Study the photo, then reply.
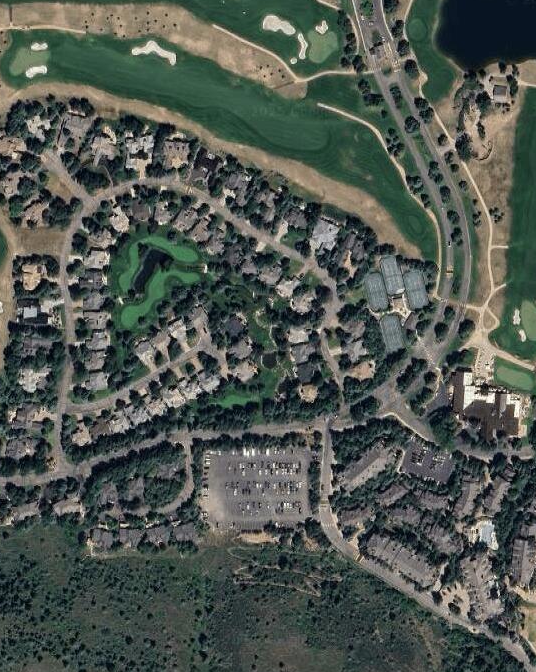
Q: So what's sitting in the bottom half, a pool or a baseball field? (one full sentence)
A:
The feature located in the bottom half is a pool.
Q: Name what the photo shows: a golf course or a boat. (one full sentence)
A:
The image shows a golf course.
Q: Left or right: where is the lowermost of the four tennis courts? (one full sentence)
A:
It is on the right.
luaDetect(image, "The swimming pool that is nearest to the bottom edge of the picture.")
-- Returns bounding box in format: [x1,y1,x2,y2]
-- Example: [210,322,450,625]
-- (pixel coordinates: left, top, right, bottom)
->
[470,520,499,551]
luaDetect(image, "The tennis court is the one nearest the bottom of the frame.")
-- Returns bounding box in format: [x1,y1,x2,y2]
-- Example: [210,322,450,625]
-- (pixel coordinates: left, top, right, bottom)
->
[379,314,405,355]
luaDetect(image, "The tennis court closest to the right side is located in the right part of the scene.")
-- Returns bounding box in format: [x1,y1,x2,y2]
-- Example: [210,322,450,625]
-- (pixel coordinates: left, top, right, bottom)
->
[402,270,430,312]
